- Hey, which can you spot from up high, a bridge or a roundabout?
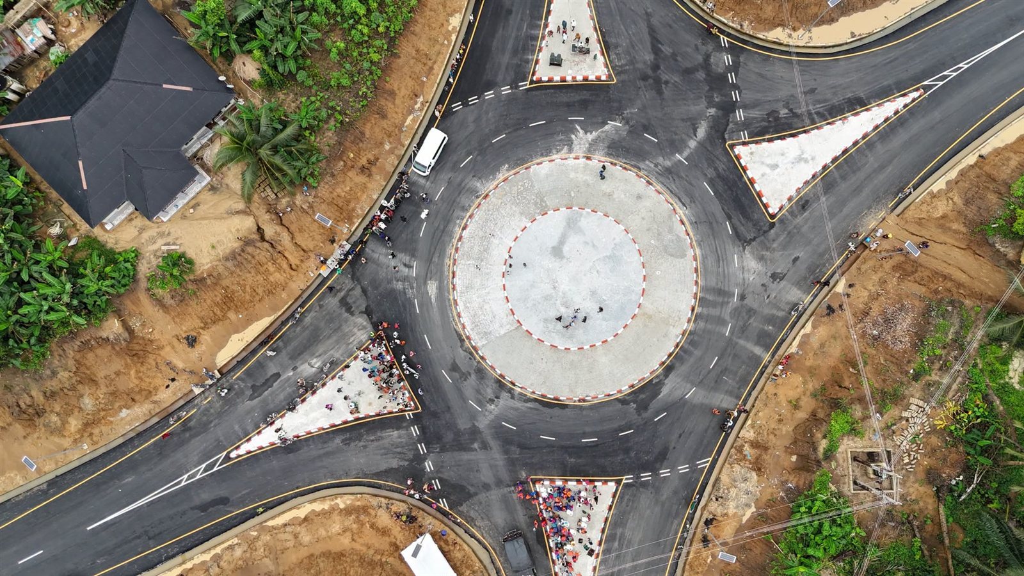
roundabout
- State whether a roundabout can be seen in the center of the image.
Yes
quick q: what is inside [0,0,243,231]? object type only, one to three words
house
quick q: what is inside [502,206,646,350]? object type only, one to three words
roundabout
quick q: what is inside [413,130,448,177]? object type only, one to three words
vehicle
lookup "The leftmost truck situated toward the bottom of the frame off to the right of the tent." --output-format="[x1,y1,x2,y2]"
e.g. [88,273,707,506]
[503,526,537,576]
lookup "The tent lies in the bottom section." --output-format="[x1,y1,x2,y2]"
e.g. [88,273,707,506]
[401,527,459,576]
